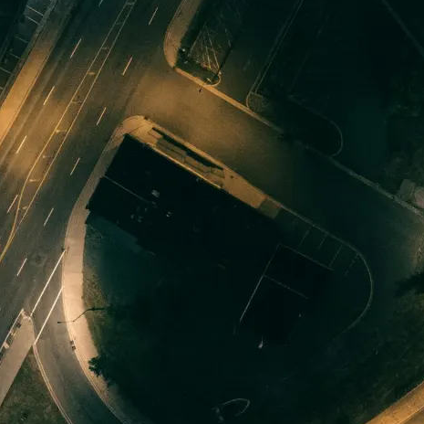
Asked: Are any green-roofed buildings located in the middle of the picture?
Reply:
No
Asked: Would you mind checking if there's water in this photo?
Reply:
No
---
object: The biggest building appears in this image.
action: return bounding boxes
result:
[87,134,262,267]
